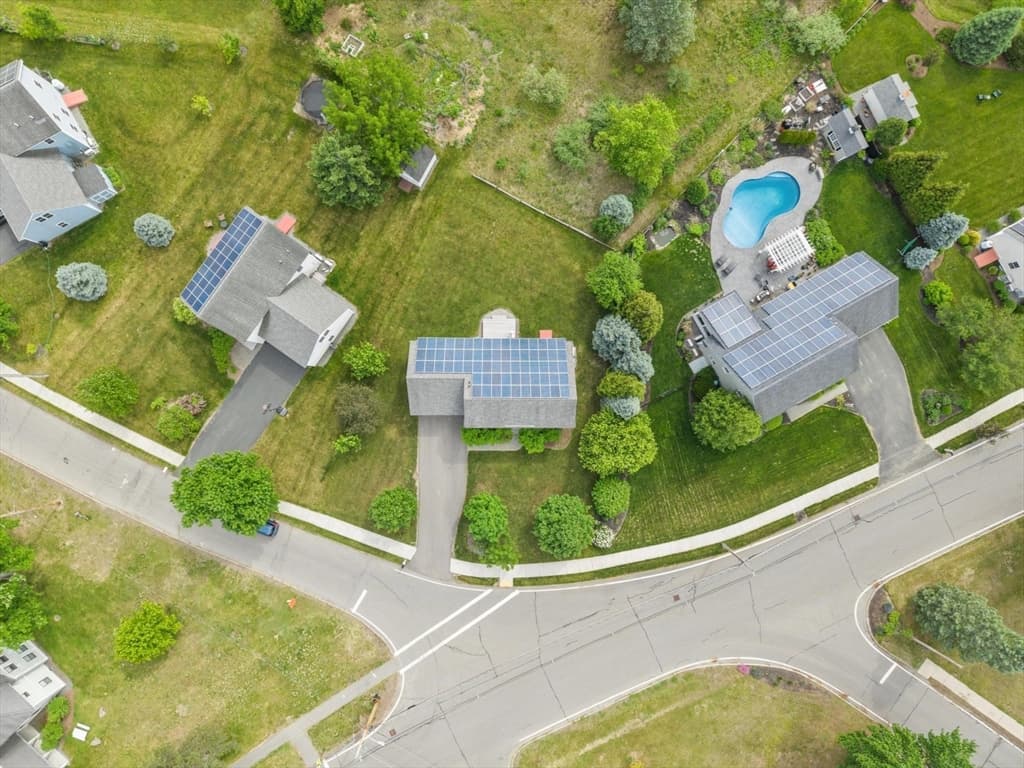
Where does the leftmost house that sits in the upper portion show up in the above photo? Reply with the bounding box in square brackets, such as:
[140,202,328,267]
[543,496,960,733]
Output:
[0,57,118,241]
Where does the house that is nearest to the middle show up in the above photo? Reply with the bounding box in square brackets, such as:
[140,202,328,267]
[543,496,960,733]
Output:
[406,321,577,429]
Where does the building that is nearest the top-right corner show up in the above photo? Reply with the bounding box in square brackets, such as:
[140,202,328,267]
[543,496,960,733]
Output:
[861,74,922,130]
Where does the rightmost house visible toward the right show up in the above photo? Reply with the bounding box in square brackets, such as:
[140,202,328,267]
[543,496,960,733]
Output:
[975,220,1024,302]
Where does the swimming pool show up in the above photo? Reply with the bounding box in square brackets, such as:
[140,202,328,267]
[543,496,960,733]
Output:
[724,171,800,248]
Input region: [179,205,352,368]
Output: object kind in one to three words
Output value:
house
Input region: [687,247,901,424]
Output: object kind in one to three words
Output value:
house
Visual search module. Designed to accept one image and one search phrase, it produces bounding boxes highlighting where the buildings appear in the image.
[861,74,922,130]
[179,205,352,368]
[0,57,118,241]
[394,138,439,194]
[406,321,577,429]
[0,632,82,768]
[687,247,901,424]
[975,220,1024,302]
[819,109,869,162]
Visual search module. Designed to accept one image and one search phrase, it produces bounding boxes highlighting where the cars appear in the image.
[0,206,8,225]
[239,512,279,534]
